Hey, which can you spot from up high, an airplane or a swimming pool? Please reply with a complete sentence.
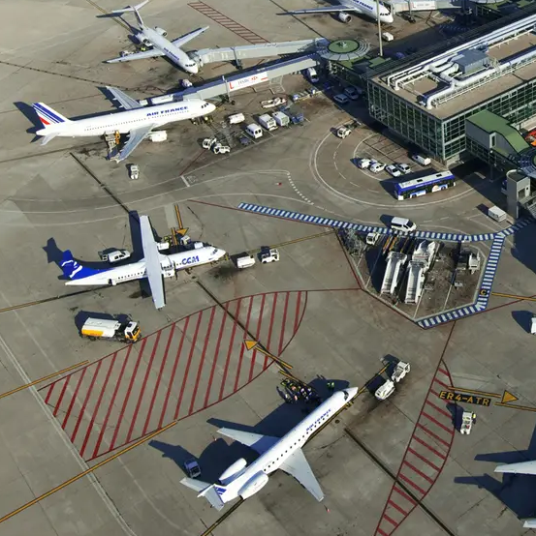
Looking from above, you can make out an airplane.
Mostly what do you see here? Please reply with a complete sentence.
The bulk of the photo consists of paved ground.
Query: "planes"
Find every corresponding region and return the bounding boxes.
[104,2,208,76]
[55,216,226,307]
[30,85,217,164]
[286,0,392,25]
[192,388,357,505]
